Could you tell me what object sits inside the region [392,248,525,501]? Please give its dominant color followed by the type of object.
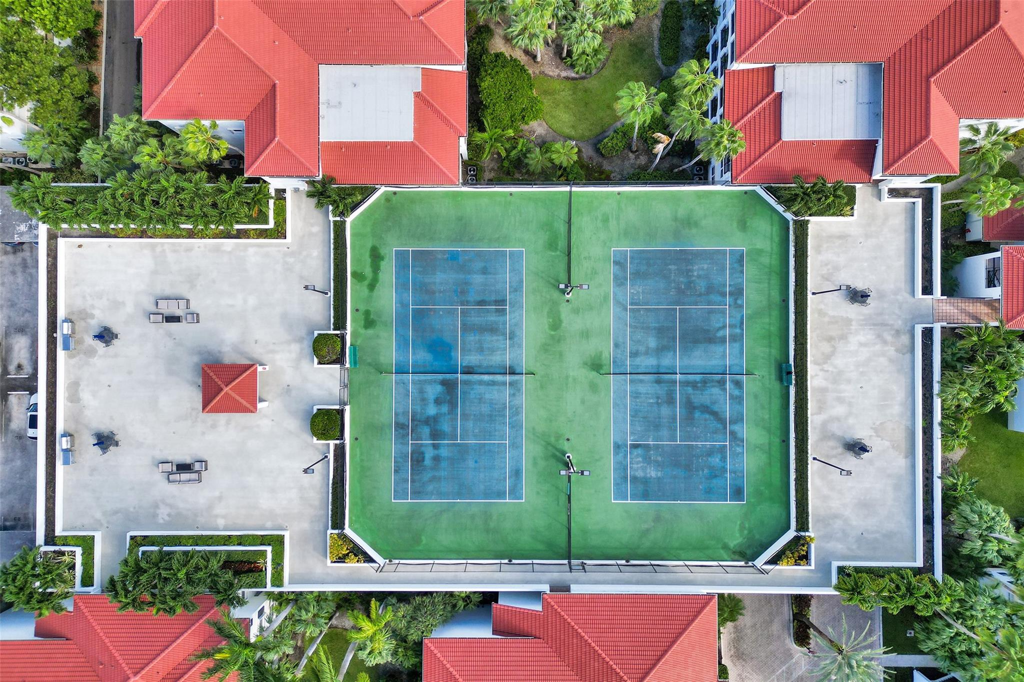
blue tennis court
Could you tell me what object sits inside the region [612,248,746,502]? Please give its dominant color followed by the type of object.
blue tennis court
